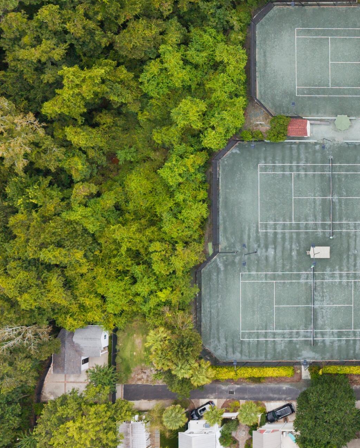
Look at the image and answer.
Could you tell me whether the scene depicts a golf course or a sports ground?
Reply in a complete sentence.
This looks like a sports ground.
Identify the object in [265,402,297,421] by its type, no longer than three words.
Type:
car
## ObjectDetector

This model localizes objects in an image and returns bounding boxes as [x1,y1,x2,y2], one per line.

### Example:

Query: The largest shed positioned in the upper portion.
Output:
[288,119,313,136]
